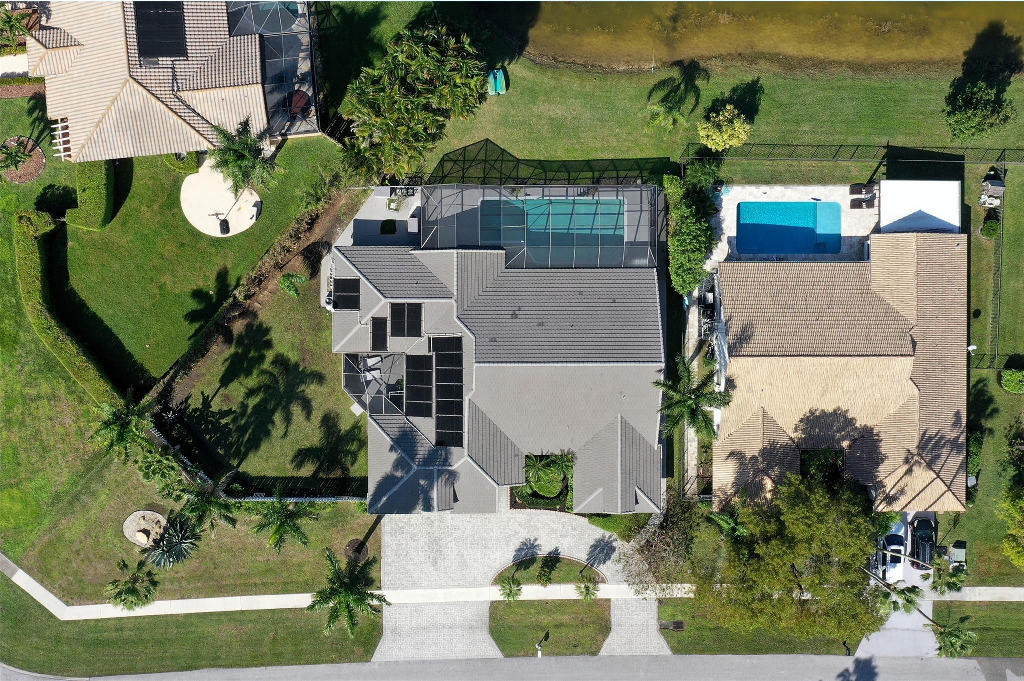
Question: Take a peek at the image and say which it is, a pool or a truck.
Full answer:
Looking from above, you can make out a pool.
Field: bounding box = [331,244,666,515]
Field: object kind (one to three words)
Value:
house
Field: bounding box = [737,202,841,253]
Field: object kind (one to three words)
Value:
swimming pool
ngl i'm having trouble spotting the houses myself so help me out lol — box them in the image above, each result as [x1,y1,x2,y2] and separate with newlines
[331,244,666,515]
[26,0,276,162]
[710,232,969,512]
